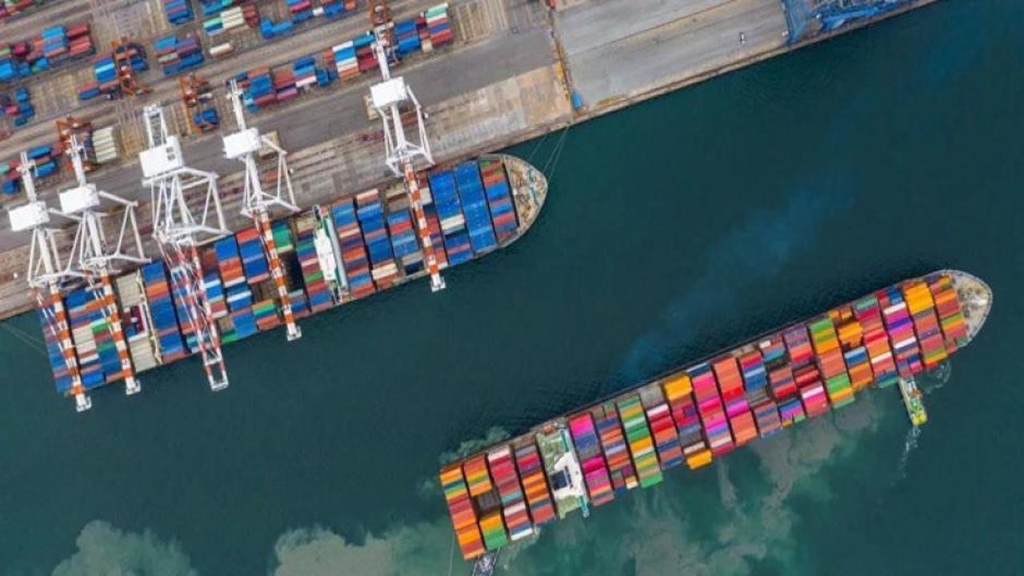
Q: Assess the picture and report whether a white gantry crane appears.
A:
Yes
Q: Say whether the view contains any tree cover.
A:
No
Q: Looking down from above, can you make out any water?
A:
Yes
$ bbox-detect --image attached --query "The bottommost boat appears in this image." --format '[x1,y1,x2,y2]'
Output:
[475,549,497,576]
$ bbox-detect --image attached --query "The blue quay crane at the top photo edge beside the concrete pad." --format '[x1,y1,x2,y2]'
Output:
[780,0,853,44]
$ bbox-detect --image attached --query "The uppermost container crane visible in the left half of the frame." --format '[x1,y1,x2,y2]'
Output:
[369,0,408,61]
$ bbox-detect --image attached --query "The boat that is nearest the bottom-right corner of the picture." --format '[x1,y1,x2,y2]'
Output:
[898,372,927,427]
